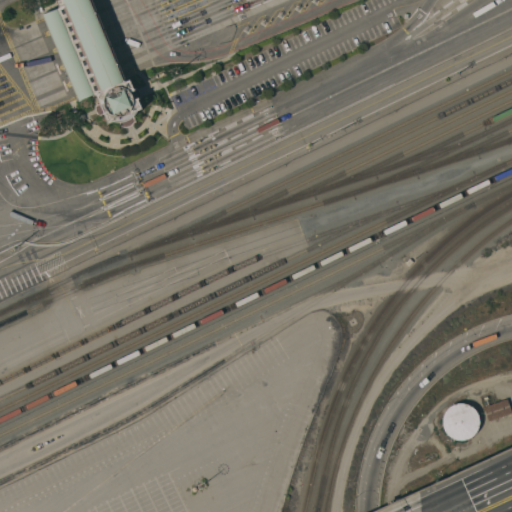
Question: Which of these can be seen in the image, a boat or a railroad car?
railroad car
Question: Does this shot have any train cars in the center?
Yes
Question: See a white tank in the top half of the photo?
No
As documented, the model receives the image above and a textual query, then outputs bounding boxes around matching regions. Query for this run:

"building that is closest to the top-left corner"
[44,0,124,102]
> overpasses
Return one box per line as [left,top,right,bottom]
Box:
[371,449,512,512]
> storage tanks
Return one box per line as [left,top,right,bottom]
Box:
[442,404,480,442]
